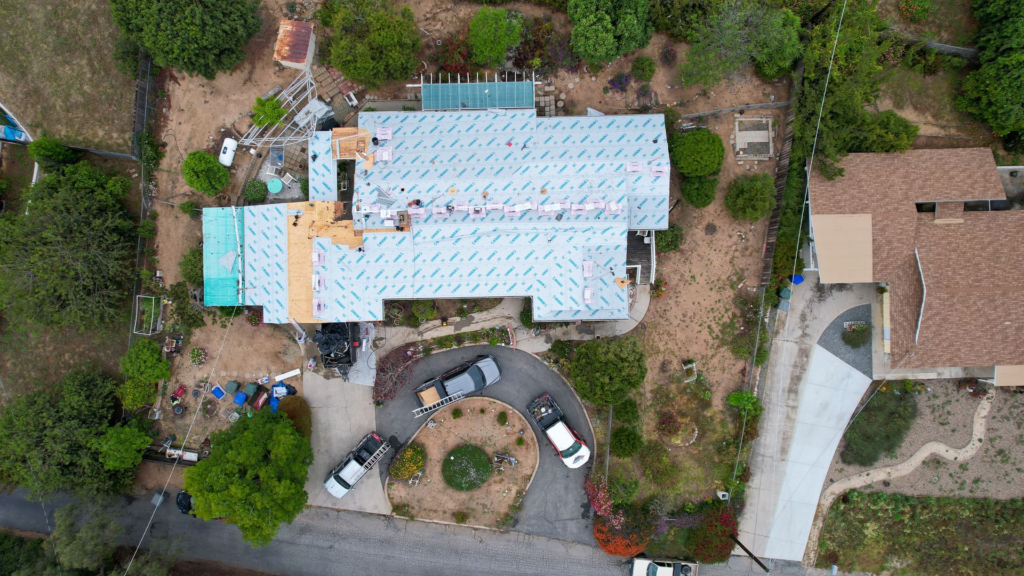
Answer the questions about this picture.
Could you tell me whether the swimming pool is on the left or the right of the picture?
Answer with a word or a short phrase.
left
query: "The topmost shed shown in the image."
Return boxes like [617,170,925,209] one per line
[271,19,315,68]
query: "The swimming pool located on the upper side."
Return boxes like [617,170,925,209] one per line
[0,100,37,145]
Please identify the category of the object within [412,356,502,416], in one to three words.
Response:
truck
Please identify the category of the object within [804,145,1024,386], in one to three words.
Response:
house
